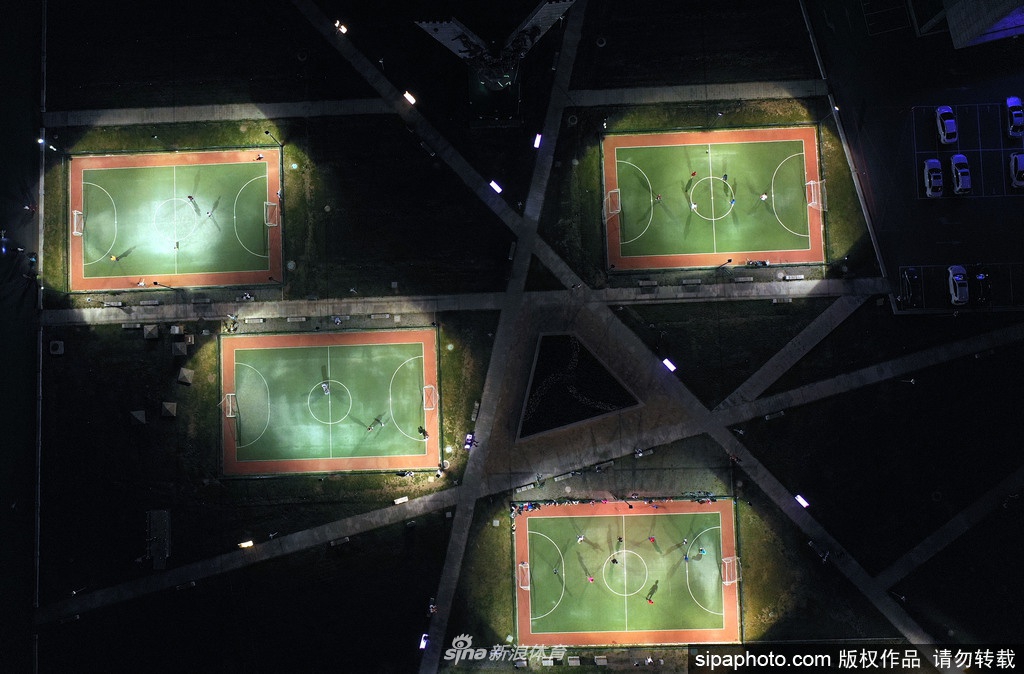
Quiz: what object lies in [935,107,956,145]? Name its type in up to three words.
car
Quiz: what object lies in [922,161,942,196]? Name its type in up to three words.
car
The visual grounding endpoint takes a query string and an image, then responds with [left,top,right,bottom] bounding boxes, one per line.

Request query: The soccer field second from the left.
[222,330,439,474]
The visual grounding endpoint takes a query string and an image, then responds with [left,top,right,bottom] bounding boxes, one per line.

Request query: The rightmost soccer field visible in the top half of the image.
[603,127,823,269]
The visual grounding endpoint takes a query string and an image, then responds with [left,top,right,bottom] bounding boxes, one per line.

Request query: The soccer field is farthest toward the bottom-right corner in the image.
[514,499,740,647]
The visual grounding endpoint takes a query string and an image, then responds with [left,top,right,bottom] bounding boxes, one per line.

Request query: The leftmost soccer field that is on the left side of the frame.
[71,150,281,290]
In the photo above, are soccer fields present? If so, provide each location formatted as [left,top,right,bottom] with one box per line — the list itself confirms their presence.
[603,127,823,269]
[71,150,281,290]
[222,330,439,474]
[514,499,740,647]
